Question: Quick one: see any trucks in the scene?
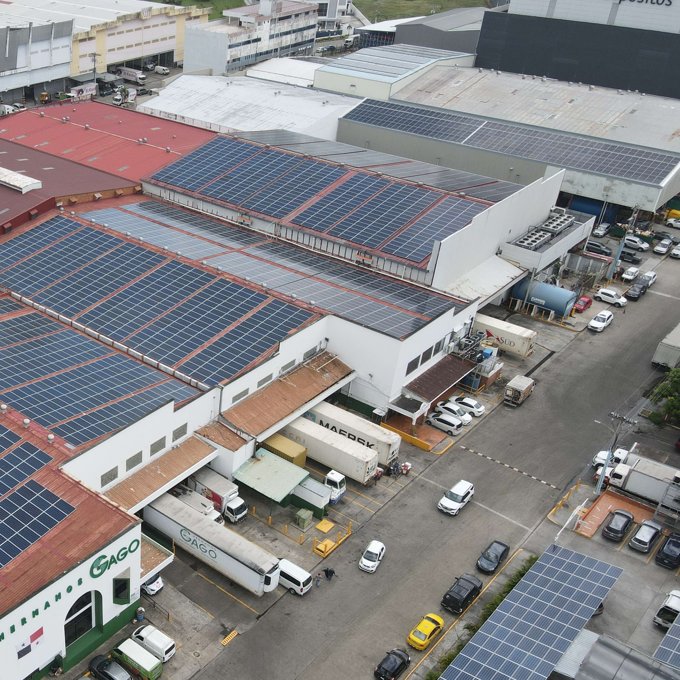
Yes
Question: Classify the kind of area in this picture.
industrial area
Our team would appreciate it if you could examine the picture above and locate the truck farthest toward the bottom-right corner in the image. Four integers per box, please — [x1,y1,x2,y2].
[655,588,680,632]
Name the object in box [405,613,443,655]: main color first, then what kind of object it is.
yellow car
